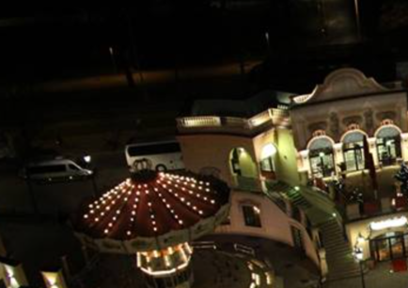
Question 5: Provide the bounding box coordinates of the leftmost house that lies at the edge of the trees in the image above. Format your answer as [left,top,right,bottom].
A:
[159,92,314,276]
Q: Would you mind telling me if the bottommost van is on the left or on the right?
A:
left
